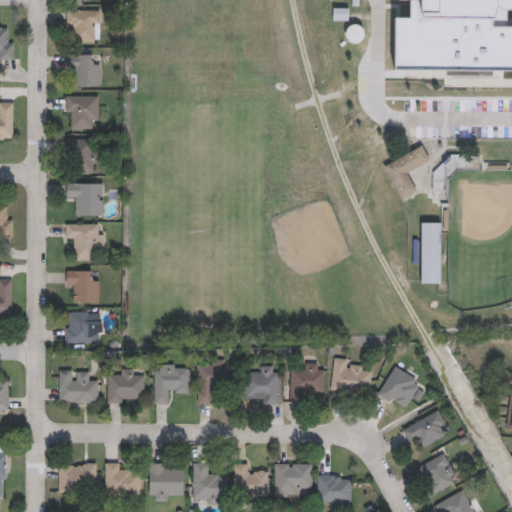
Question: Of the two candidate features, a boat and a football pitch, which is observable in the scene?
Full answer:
Visible in the photo is a football pitch.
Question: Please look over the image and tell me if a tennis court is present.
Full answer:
No, the picture doesn't show any tennis court.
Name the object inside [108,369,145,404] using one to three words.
house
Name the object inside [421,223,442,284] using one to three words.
barn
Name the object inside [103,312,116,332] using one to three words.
swimming pool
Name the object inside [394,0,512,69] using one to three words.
building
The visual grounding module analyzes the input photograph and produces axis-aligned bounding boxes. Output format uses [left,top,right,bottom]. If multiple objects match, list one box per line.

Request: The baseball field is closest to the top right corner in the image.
[448,170,512,311]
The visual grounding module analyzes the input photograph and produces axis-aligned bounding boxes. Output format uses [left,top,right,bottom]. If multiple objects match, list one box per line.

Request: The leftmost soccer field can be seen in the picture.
[146,100,267,333]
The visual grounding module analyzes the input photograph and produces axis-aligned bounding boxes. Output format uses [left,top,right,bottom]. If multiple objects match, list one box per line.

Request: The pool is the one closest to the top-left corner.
[104,200,118,219]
